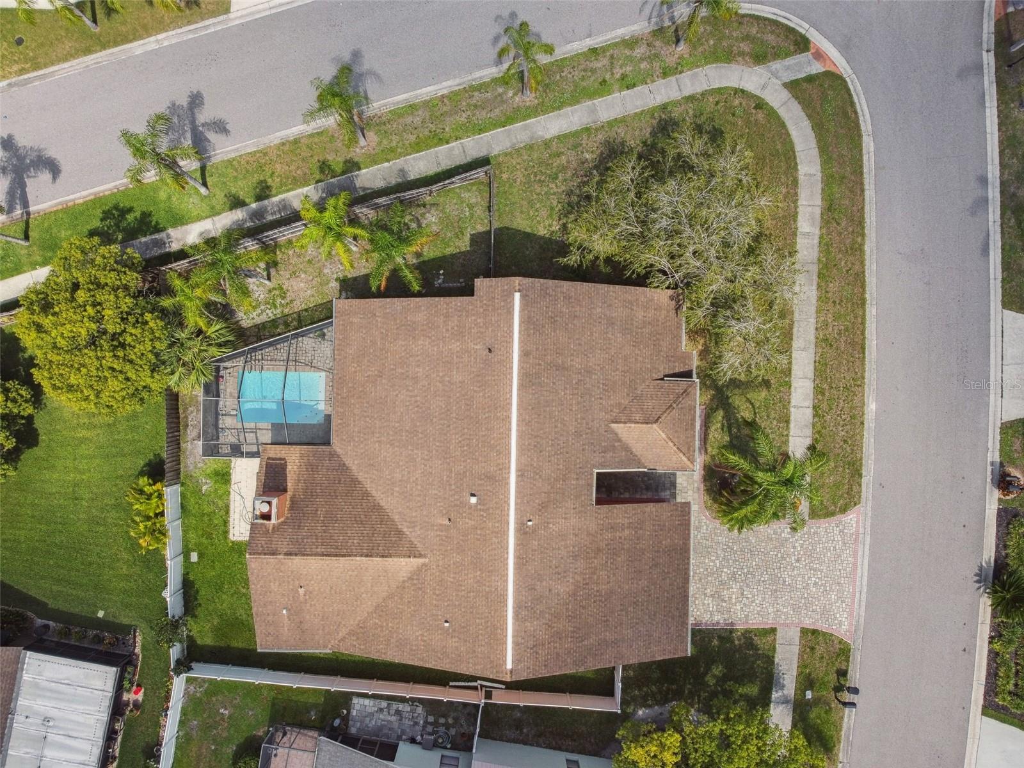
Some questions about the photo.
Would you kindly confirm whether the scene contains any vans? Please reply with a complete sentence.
No, I find no van anywhere in the image.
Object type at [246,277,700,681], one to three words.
house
